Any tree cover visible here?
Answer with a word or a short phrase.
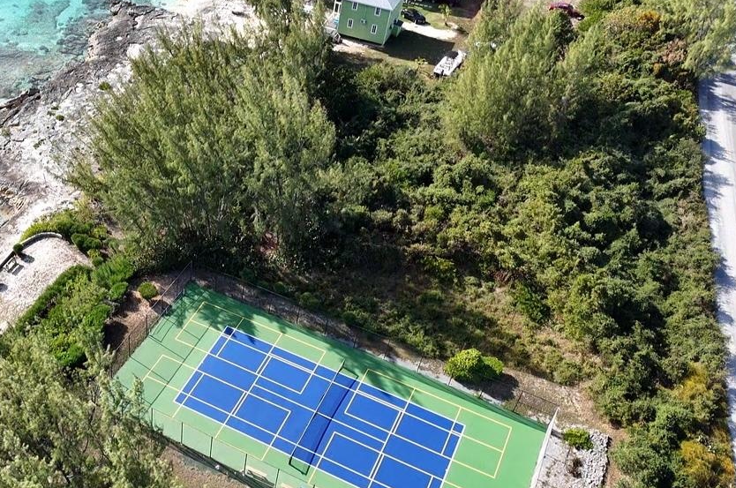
Yes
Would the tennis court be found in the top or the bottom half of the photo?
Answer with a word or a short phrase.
bottom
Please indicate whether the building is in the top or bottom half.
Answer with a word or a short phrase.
top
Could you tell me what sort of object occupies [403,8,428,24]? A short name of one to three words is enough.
car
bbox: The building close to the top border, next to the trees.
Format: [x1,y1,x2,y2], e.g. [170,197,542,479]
[322,0,409,46]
